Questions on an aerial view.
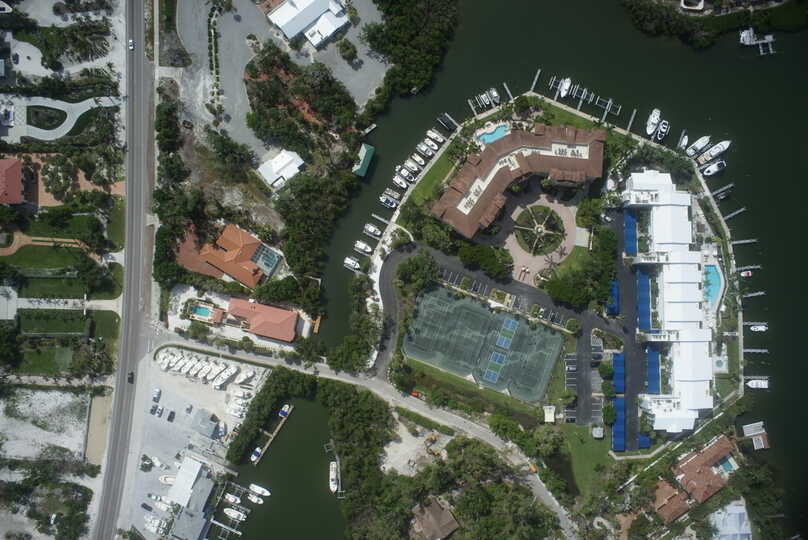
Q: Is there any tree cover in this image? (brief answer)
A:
Yes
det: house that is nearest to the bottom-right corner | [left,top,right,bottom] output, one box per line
[712,500,753,540]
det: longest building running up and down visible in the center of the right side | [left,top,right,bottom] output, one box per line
[623,170,713,433]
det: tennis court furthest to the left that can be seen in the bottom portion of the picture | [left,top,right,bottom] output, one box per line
[413,295,457,358]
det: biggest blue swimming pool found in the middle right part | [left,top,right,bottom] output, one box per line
[703,264,721,309]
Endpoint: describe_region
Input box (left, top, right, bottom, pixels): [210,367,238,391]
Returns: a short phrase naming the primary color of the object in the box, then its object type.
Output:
white boat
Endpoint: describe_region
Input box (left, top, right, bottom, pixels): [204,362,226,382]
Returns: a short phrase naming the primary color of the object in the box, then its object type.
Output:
white boat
